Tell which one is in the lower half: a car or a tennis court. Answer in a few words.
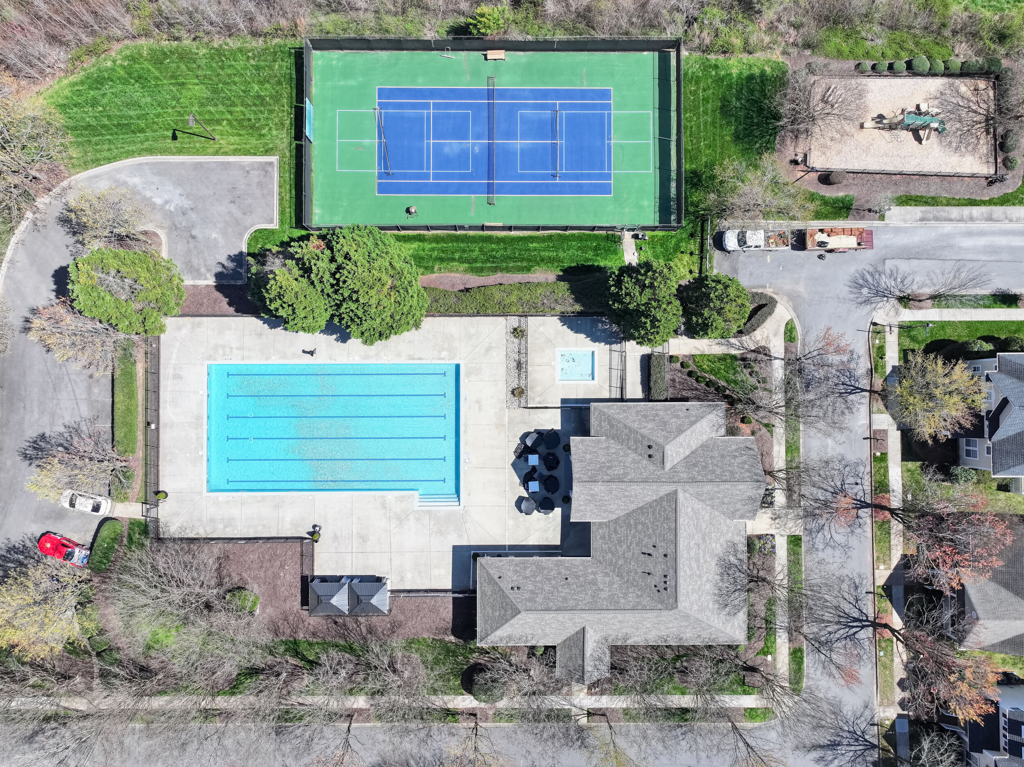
car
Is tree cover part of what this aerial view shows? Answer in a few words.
Yes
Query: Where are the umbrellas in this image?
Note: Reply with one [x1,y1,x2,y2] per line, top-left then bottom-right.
[540,474,558,492]
[540,452,559,471]
[536,496,553,513]
[540,430,559,449]
[517,495,535,514]
[514,442,527,458]
[522,431,540,450]
[525,466,537,483]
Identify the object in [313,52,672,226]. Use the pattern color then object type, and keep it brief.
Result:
green tennis court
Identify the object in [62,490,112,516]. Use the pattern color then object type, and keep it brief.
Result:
white car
